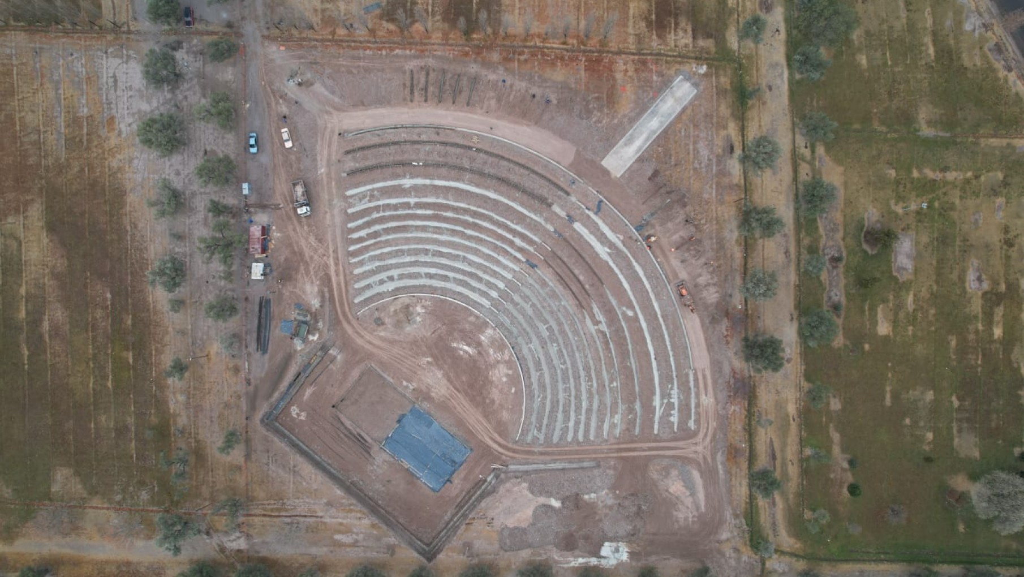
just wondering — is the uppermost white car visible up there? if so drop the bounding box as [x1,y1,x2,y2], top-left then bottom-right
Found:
[281,128,293,149]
